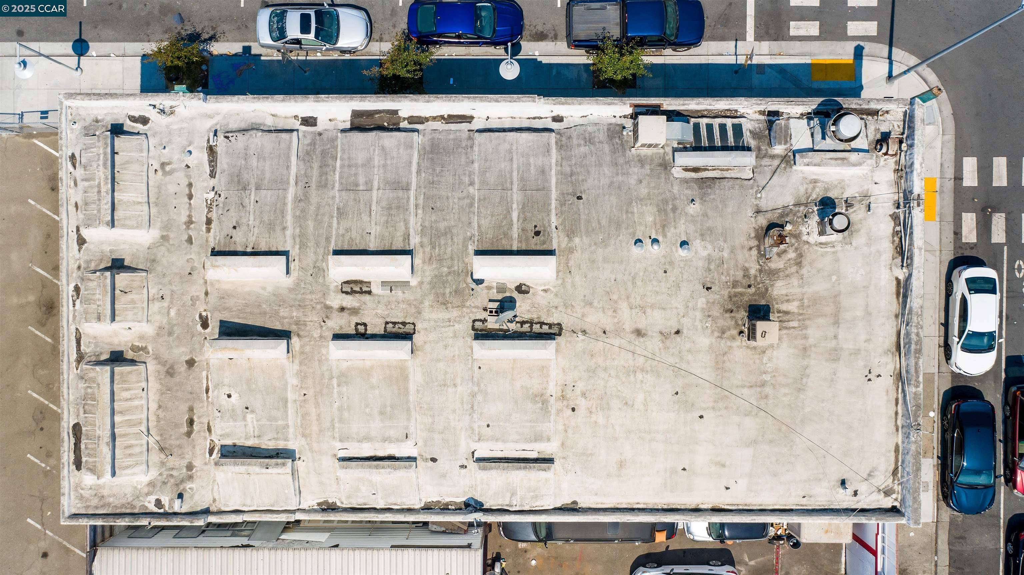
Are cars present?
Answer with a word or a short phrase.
Yes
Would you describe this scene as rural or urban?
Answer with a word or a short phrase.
urban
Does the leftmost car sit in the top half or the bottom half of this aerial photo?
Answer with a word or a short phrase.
top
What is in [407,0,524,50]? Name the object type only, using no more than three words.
car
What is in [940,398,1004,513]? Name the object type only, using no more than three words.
car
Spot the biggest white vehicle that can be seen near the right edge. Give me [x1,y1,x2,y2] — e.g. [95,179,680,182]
[942,265,1006,376]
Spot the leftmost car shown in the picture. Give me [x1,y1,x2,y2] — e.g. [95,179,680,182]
[256,0,374,54]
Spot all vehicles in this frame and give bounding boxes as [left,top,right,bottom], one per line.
[1002,529,1024,575]
[498,521,678,550]
[999,381,1024,496]
[561,0,702,55]
[940,398,1004,513]
[407,0,524,50]
[634,563,734,575]
[256,0,374,54]
[680,521,769,549]
[942,265,1006,376]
